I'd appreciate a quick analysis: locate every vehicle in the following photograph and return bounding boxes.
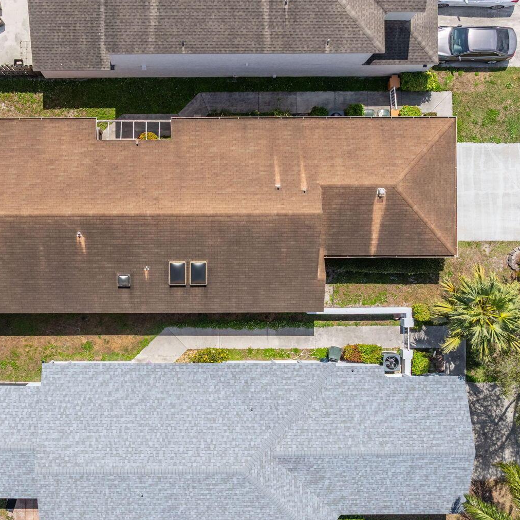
[437,0,517,8]
[437,21,516,63]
